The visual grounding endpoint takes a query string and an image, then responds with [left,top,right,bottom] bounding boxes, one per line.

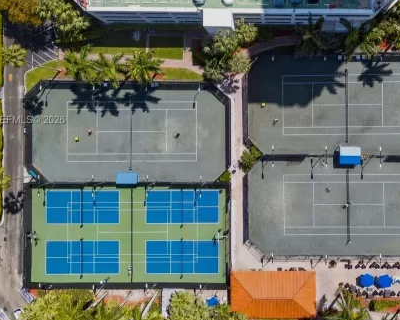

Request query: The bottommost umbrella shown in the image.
[205,294,219,308]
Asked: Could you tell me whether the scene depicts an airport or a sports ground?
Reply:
sports ground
